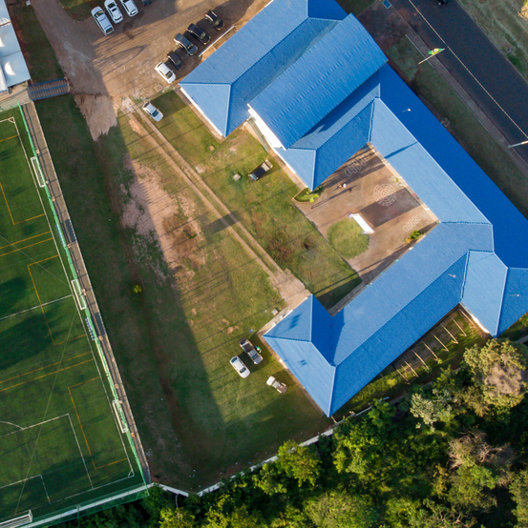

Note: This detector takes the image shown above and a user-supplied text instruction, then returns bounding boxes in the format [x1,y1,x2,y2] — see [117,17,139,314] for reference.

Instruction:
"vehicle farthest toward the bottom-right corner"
[263,374,289,396]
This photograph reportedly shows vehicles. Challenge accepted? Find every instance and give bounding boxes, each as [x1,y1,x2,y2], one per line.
[237,334,263,366]
[93,7,113,35]
[227,352,252,380]
[173,32,196,58]
[104,0,123,25]
[120,0,139,18]
[141,0,154,9]
[141,98,164,124]
[187,22,210,47]
[153,60,177,85]
[204,9,224,32]
[263,374,289,396]
[246,155,276,183]
[164,45,185,68]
